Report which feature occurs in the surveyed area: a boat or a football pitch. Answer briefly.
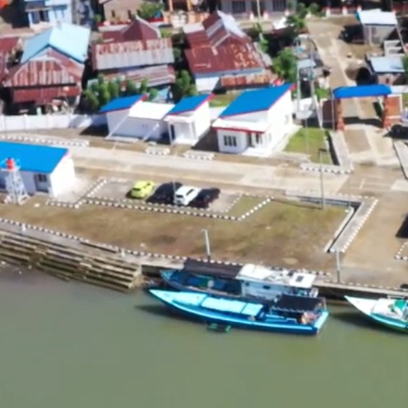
boat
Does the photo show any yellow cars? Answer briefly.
Yes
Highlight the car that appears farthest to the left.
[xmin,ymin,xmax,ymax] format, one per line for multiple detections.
[131,182,157,198]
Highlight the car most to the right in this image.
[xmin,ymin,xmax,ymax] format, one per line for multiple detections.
[194,189,221,205]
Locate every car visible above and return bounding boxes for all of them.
[194,189,221,205]
[131,182,157,198]
[175,187,203,203]
[152,185,181,202]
